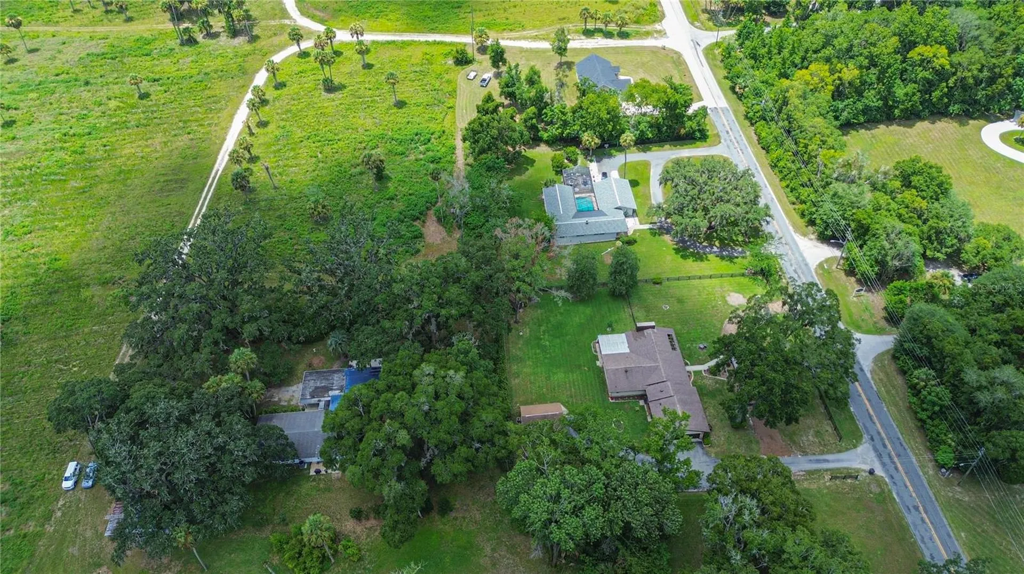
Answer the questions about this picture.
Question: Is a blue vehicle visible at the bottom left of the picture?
Yes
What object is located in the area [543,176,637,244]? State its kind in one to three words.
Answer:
building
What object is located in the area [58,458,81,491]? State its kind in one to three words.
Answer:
car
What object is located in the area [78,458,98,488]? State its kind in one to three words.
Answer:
car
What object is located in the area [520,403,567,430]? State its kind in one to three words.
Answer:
shed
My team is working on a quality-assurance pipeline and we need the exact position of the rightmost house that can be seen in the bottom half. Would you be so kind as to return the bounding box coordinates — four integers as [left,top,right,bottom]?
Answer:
[597,320,710,438]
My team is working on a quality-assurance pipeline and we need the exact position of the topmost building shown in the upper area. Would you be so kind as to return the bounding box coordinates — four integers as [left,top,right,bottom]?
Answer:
[575,53,631,98]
